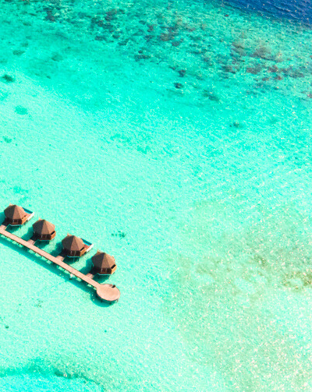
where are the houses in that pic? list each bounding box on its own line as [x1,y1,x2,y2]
[1,205,29,226]
[30,218,57,241]
[88,250,118,274]
[58,234,87,258]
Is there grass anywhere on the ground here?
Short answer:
No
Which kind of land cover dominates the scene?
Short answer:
water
